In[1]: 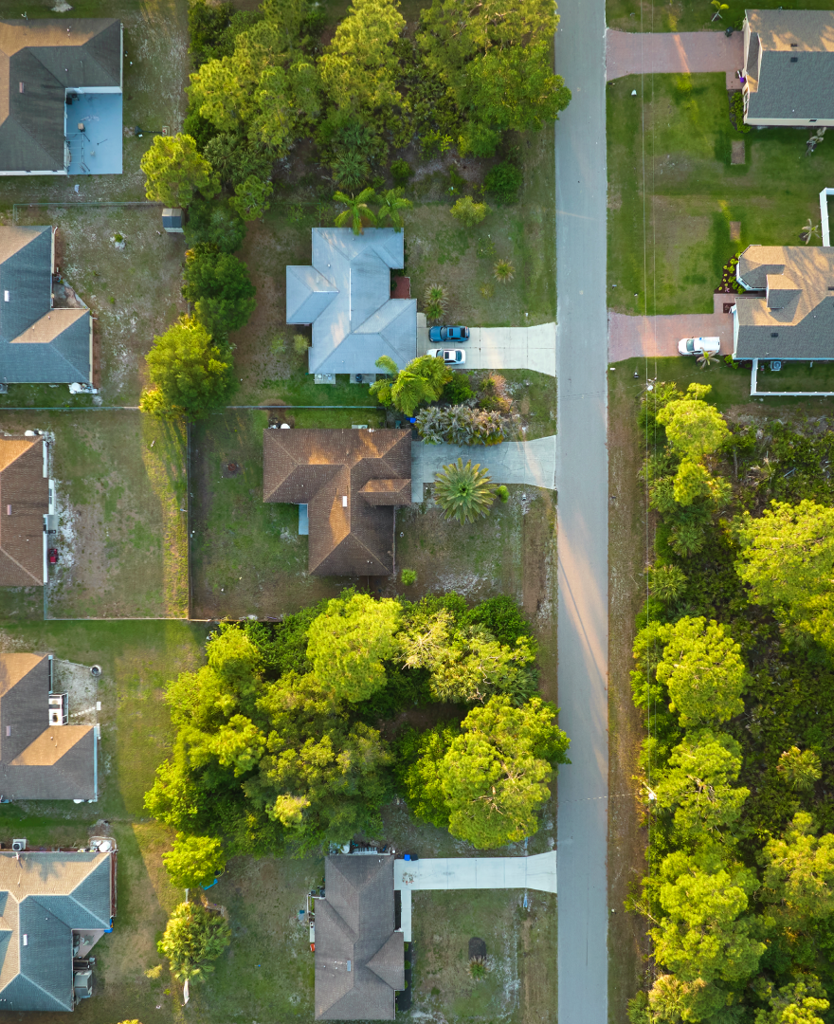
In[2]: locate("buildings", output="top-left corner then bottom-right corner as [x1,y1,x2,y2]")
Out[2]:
[314,851,405,1021]
[740,7,834,124]
[0,18,124,175]
[0,653,98,800]
[0,225,94,383]
[286,227,417,374]
[0,849,114,1012]
[262,427,412,576]
[157,206,181,229]
[0,436,53,586]
[729,244,834,358]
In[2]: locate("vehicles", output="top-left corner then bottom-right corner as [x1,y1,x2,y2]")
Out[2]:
[678,335,722,356]
[427,346,465,365]
[429,323,469,343]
